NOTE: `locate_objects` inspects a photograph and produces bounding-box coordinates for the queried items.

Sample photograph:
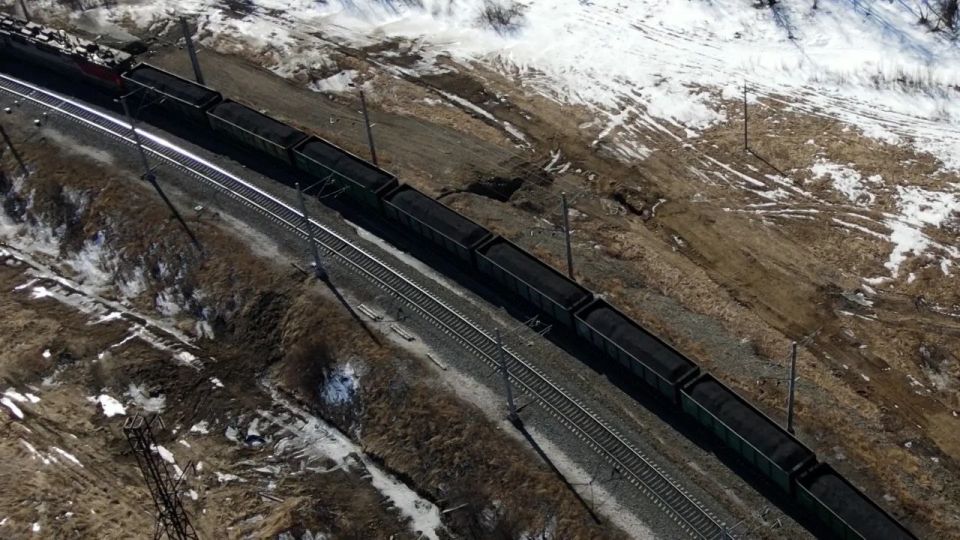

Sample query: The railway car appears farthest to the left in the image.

[0,12,138,91]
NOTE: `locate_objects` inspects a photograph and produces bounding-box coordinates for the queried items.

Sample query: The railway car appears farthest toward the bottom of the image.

[797,463,922,540]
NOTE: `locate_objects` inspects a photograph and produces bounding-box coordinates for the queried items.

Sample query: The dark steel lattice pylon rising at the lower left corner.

[127,410,206,540]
